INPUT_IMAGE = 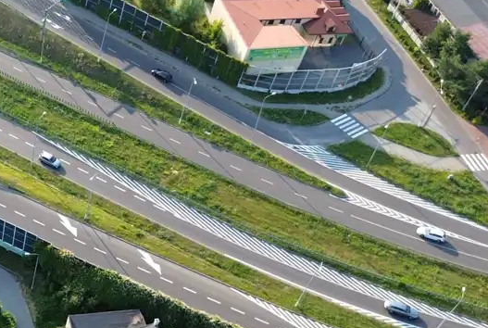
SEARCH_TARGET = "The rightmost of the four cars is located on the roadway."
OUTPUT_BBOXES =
[417,224,449,241]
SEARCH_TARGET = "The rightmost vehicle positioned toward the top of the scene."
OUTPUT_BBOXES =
[151,68,173,81]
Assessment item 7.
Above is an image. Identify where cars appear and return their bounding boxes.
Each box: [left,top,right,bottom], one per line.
[386,299,419,319]
[38,150,62,168]
[417,224,449,241]
[151,68,173,81]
